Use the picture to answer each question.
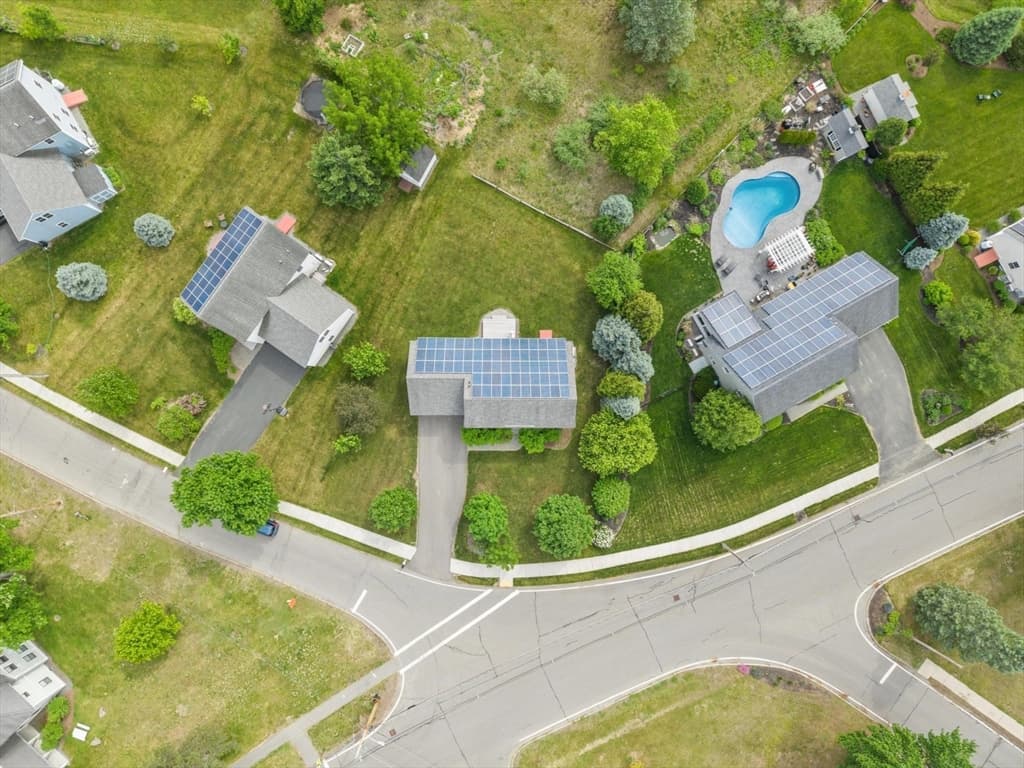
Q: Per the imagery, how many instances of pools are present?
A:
one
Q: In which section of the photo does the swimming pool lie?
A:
top right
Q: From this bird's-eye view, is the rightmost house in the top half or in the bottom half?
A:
top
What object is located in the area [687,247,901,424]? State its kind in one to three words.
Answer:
house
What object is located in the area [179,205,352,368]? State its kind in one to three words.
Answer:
house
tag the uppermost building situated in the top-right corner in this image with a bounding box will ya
[861,74,922,130]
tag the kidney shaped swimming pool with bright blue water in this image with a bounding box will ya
[724,171,800,248]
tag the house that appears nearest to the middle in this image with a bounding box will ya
[406,321,577,429]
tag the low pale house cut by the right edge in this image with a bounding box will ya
[975,220,1024,302]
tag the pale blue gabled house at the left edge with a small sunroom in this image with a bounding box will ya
[0,57,118,241]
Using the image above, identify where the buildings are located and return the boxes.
[179,205,352,368]
[819,109,869,162]
[0,57,118,241]
[687,247,901,424]
[975,220,1024,302]
[861,74,922,130]
[394,138,439,194]
[0,632,82,768]
[406,321,577,429]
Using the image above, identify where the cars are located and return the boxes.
[0,206,8,225]
[239,512,279,534]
